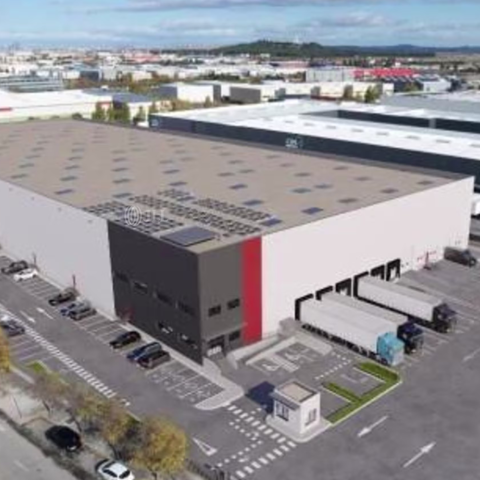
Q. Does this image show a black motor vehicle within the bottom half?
Yes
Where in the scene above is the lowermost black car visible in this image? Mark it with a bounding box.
[44,420,82,454]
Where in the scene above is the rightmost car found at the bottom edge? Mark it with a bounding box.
[95,455,135,480]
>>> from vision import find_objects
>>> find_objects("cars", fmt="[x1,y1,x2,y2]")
[2,261,28,274]
[62,297,87,312]
[138,344,171,368]
[110,327,142,347]
[15,266,38,279]
[0,318,29,336]
[128,341,158,359]
[69,300,99,318]
[44,420,82,454]
[95,455,135,480]
[50,287,78,303]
